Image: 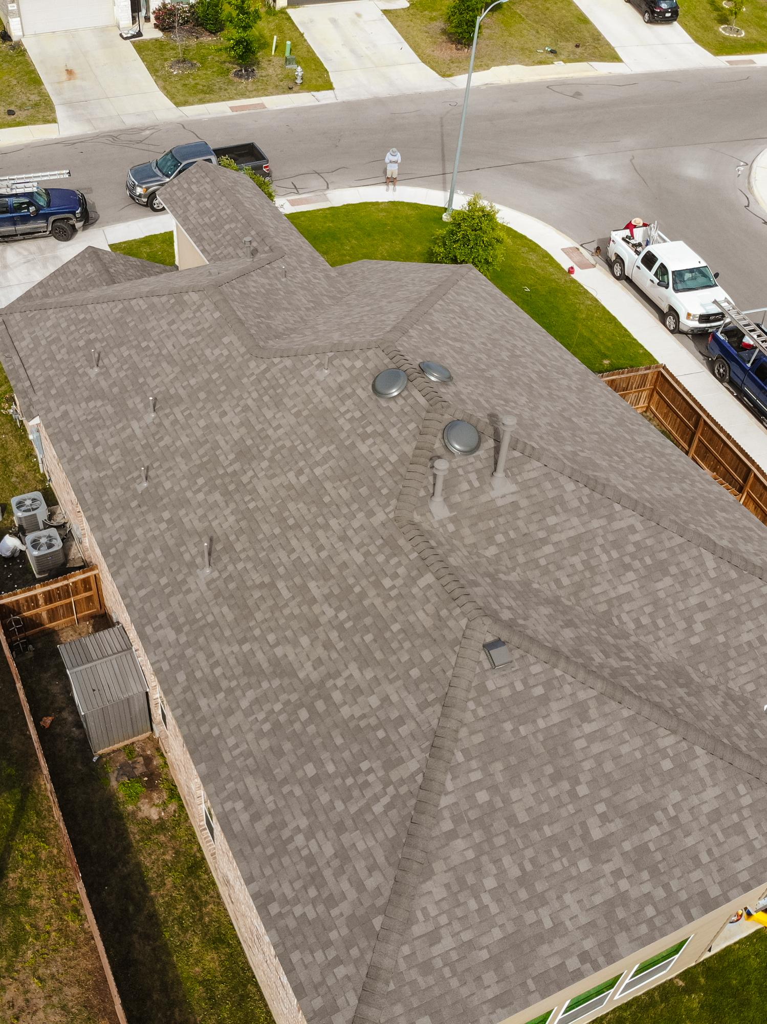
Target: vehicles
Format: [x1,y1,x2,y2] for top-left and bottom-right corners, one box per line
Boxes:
[606,229,743,339]
[0,171,91,246]
[704,308,767,423]
[633,0,681,25]
[118,136,270,210]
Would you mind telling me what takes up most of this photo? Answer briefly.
buildings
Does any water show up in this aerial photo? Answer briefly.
No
